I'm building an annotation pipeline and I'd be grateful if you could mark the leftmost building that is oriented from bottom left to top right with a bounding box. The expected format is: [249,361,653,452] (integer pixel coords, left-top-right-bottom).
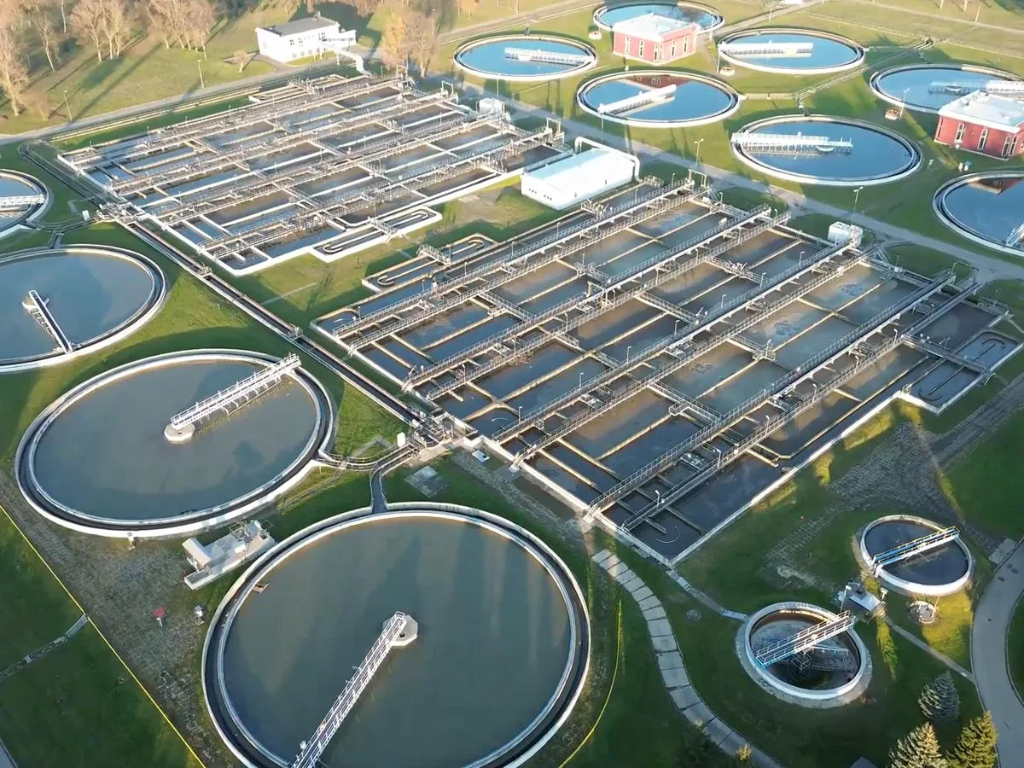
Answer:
[177,508,283,592]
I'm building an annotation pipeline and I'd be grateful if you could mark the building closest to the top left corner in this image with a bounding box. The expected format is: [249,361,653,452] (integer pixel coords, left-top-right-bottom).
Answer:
[256,12,337,62]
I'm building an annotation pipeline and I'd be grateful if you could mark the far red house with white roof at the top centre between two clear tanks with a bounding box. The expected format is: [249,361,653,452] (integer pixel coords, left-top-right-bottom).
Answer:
[610,14,701,65]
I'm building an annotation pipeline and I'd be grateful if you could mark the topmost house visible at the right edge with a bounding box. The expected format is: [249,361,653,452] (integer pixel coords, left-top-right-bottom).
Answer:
[934,88,1024,161]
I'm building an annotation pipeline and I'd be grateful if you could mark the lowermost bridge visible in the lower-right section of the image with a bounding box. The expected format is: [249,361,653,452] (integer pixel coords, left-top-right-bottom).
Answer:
[750,607,861,676]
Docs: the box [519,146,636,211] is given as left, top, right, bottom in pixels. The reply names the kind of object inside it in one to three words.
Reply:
building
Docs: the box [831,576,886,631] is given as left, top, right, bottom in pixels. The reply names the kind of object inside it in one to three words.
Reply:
building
